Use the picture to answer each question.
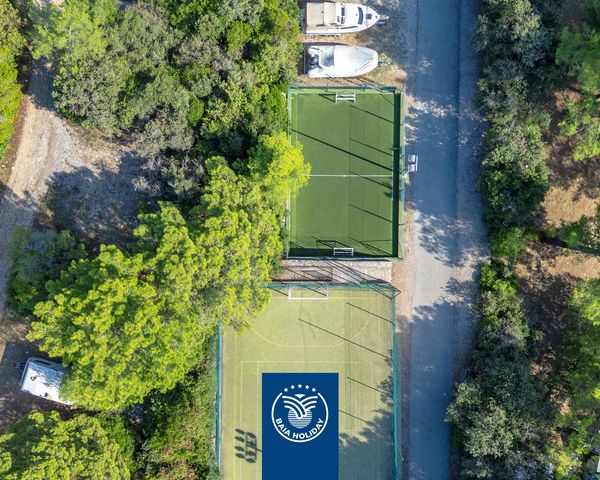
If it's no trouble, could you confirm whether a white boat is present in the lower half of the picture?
No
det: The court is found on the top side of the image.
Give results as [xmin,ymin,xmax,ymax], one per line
[289,89,402,257]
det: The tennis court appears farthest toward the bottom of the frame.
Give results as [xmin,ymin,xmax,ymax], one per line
[220,285,396,480]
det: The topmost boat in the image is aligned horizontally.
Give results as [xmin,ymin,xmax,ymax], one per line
[302,1,383,33]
